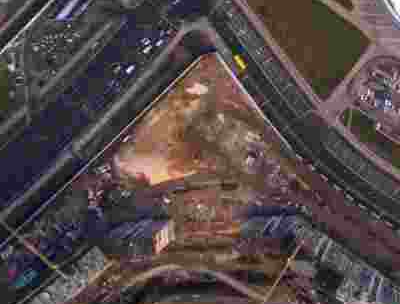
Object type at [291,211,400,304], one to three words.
building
